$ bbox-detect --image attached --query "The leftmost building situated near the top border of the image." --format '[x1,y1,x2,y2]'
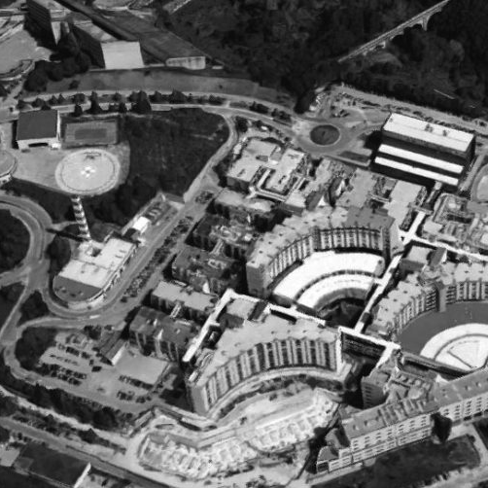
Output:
[19,0,57,44]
